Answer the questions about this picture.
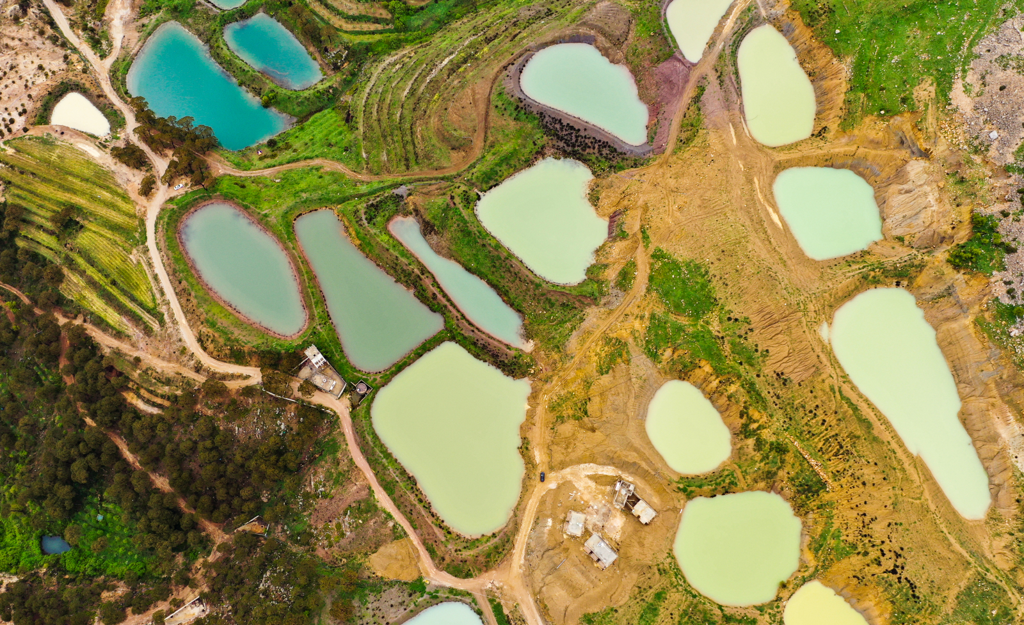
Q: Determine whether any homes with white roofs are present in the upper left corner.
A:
No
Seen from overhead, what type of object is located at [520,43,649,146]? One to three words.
pond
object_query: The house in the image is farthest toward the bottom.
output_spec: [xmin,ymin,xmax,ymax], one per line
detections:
[581,534,618,570]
